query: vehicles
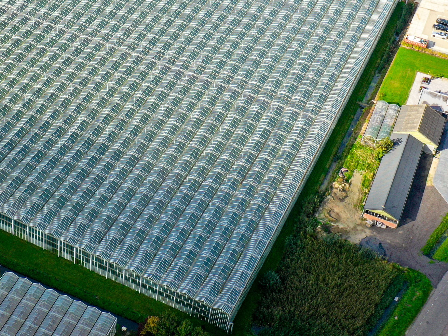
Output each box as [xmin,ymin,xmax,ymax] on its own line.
[433,32,448,40]
[433,24,448,33]
[436,17,448,27]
